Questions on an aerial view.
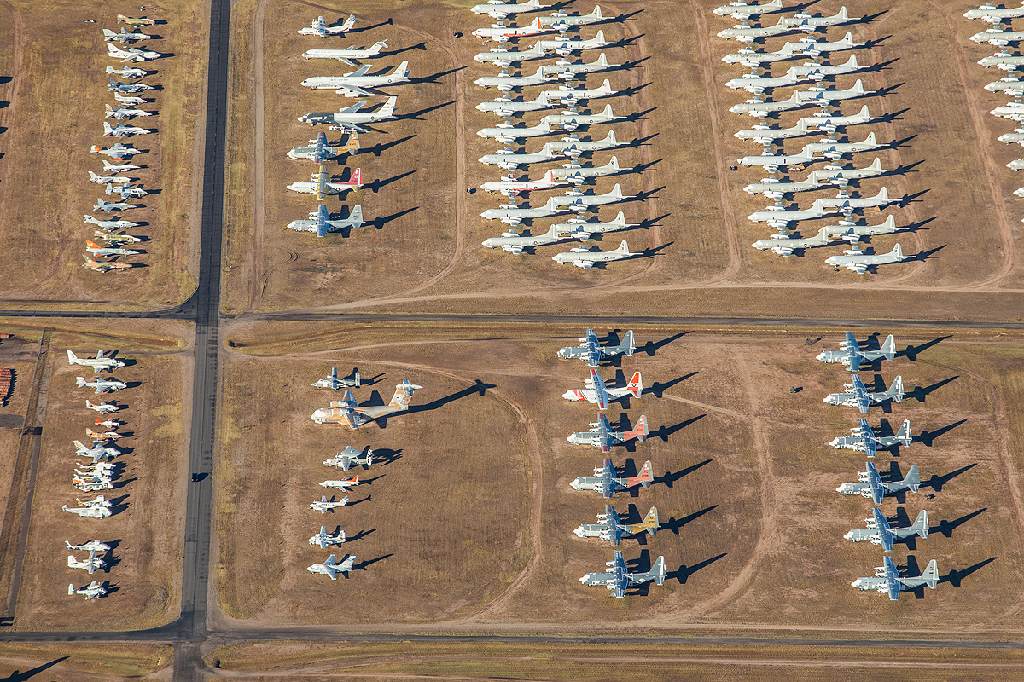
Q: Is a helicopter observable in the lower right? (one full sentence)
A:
No, in the lower right there is no helicopter.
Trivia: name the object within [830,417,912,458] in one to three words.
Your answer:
airplane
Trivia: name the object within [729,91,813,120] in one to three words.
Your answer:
airplane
